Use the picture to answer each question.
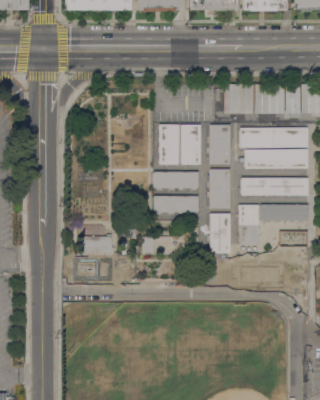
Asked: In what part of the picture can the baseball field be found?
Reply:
bottom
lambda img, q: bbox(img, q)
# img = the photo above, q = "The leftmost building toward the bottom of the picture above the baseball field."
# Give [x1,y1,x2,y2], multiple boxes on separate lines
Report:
[84,236,113,256]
